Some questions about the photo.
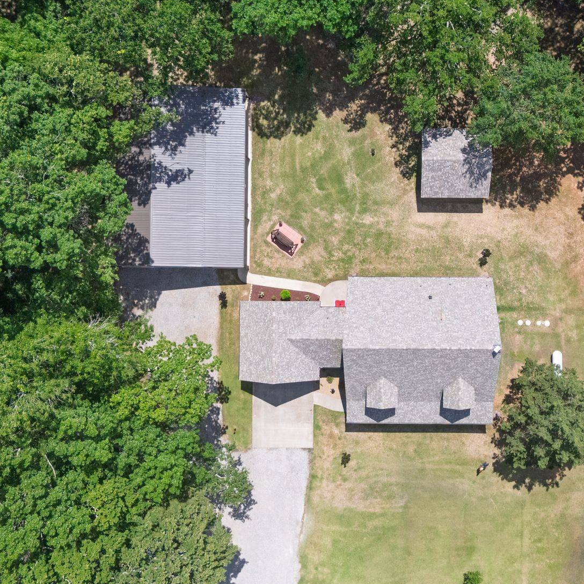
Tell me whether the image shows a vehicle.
No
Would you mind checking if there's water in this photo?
No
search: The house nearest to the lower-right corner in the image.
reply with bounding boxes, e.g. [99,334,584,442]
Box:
[342,275,501,425]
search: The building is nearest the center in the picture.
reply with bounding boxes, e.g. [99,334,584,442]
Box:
[239,301,345,384]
